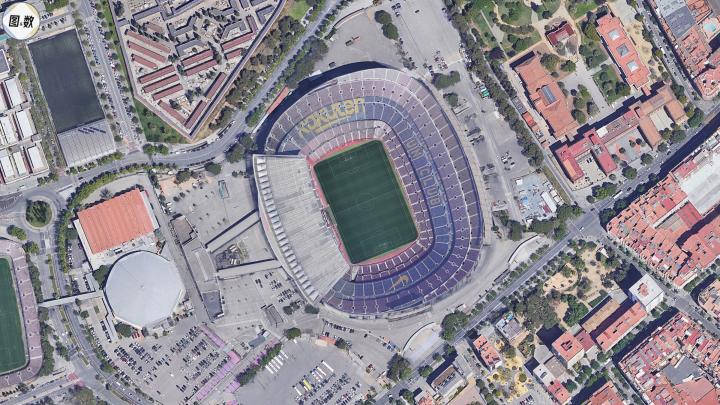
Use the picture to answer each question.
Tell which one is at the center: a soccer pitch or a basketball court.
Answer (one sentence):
What appears at the center is a soccer pitch.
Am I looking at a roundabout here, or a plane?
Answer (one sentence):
Visible in the photo is a roundabout.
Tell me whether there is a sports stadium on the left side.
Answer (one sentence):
Yes, looking on the left side, one can make out a sports stadium.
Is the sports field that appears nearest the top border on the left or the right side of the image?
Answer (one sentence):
The sports field that appears nearest the top border sits on the left side.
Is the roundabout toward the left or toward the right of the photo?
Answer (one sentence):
The roundabout appears in the left half of the scene.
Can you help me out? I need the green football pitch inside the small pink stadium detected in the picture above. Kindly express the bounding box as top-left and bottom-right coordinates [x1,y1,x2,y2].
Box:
[0,259,23,371]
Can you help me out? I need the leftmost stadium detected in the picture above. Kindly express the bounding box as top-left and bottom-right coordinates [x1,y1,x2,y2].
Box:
[0,239,43,393]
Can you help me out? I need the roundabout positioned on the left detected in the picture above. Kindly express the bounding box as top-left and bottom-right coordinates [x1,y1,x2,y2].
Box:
[15,189,65,237]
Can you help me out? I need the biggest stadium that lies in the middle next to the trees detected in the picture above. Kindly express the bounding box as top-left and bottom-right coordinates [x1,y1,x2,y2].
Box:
[252,68,486,326]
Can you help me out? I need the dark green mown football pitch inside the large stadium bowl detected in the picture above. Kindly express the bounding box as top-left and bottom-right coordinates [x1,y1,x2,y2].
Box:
[309,140,419,267]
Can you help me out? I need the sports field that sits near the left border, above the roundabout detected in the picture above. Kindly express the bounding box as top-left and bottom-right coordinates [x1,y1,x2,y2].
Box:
[24,25,108,137]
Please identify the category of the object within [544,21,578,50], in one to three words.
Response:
house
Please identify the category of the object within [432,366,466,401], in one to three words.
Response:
building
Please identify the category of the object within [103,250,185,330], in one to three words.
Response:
stadium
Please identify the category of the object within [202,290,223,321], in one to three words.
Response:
building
